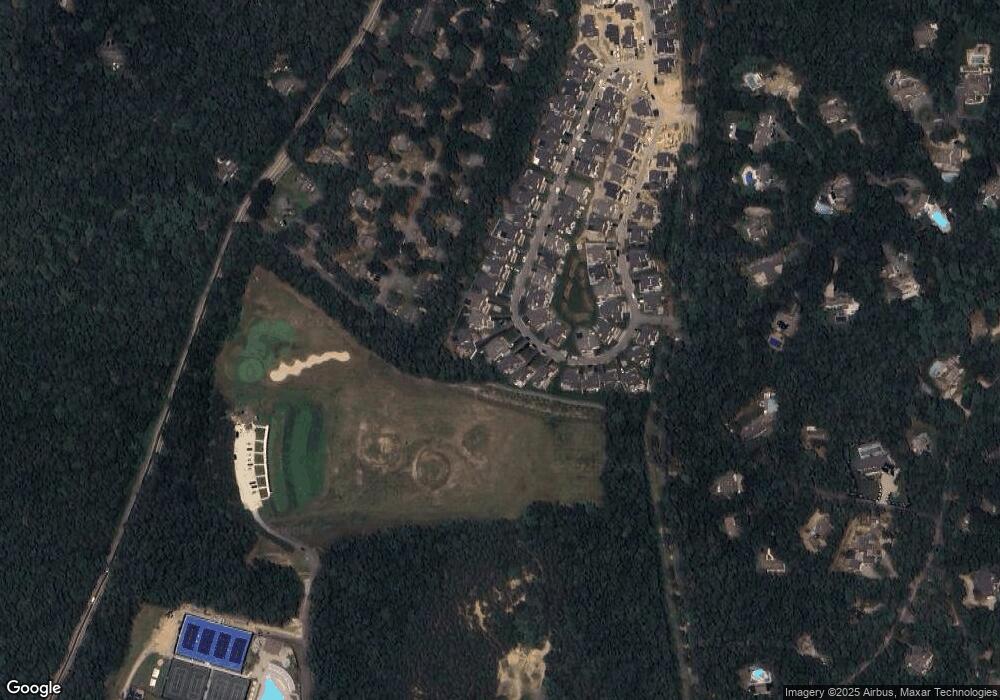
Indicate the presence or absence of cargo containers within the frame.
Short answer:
No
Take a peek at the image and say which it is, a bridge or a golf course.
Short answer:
golf course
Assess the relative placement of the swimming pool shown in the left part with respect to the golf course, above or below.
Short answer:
below it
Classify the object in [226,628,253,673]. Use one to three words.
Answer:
tennis court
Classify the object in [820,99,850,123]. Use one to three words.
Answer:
house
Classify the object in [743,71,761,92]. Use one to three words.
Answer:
swimming pool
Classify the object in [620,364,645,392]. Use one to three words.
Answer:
house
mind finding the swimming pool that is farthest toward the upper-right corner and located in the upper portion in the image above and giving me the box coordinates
[967,49,988,66]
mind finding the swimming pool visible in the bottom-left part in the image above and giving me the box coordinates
[248,641,298,700]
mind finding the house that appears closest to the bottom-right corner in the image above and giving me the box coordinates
[899,641,939,674]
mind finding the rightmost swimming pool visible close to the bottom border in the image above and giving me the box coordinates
[751,666,771,683]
